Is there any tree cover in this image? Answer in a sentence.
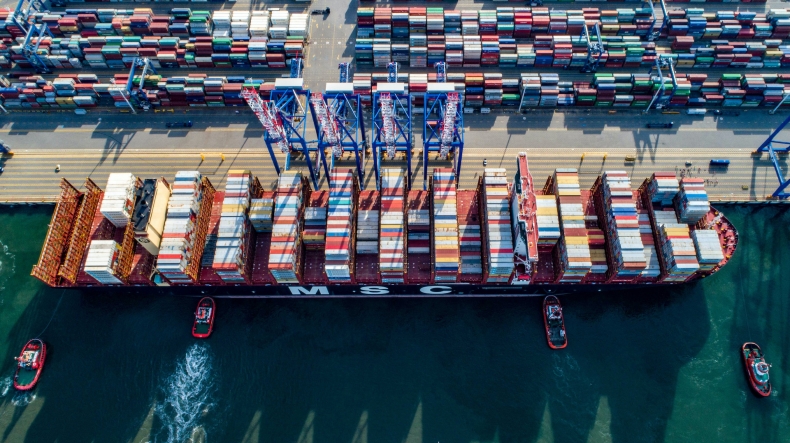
No, there is no tree cover in the image.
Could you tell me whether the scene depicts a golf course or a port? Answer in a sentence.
The picture captures a port.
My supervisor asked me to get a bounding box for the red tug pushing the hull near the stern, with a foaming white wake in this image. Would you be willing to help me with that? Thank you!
[191,297,212,340]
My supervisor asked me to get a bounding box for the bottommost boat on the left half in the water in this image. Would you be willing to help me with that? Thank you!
[11,336,43,390]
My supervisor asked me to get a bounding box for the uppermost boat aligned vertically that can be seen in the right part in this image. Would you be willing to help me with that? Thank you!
[544,296,569,347]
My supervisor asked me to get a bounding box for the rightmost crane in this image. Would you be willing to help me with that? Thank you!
[754,124,790,196]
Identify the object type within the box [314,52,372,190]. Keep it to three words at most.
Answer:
container crane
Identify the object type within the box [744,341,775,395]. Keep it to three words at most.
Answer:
boat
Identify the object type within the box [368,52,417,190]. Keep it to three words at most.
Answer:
container crane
